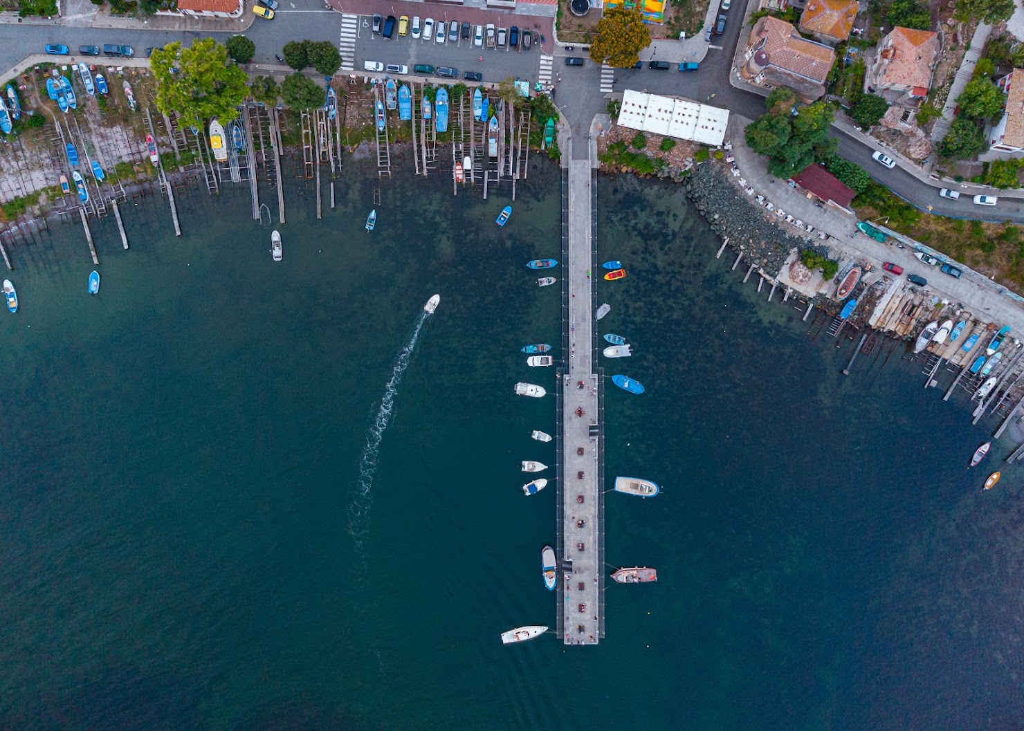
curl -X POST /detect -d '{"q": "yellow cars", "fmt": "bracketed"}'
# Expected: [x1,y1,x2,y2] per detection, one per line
[251,3,276,22]
[398,15,410,38]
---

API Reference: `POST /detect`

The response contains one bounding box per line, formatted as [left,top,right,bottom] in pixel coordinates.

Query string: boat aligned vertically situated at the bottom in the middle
[542,545,556,591]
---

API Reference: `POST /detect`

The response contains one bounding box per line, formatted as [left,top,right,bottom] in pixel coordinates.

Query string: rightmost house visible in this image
[986,68,1024,158]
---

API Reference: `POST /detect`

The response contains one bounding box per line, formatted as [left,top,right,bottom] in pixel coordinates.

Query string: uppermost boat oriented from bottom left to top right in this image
[496,205,512,226]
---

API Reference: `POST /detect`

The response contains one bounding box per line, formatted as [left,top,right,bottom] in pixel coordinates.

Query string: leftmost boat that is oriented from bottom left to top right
[424,293,440,314]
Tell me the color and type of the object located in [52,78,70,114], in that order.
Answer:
blue boat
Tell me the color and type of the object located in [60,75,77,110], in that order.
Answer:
blue boat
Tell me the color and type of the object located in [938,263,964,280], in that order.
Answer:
blue car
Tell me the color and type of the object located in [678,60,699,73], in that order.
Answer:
blue vehicle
